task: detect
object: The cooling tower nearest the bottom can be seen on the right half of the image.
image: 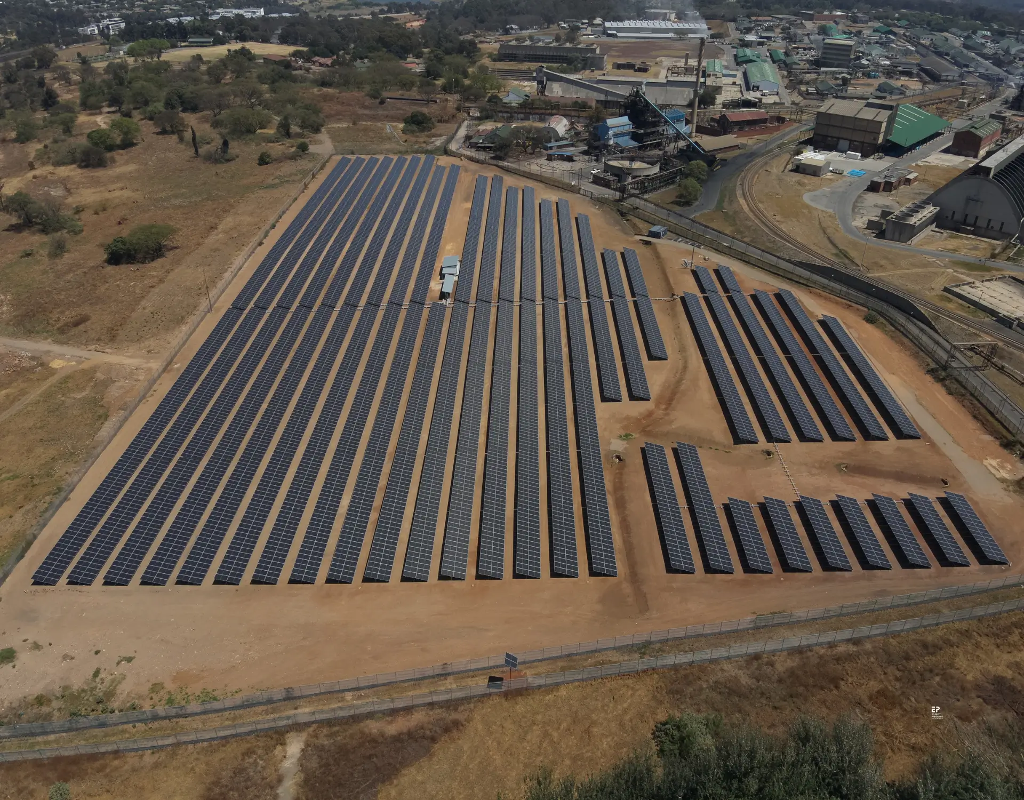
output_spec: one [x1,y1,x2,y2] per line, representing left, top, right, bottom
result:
[886,193,926,244]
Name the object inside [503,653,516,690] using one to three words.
solar panel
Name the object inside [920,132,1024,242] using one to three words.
building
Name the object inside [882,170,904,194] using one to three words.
building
